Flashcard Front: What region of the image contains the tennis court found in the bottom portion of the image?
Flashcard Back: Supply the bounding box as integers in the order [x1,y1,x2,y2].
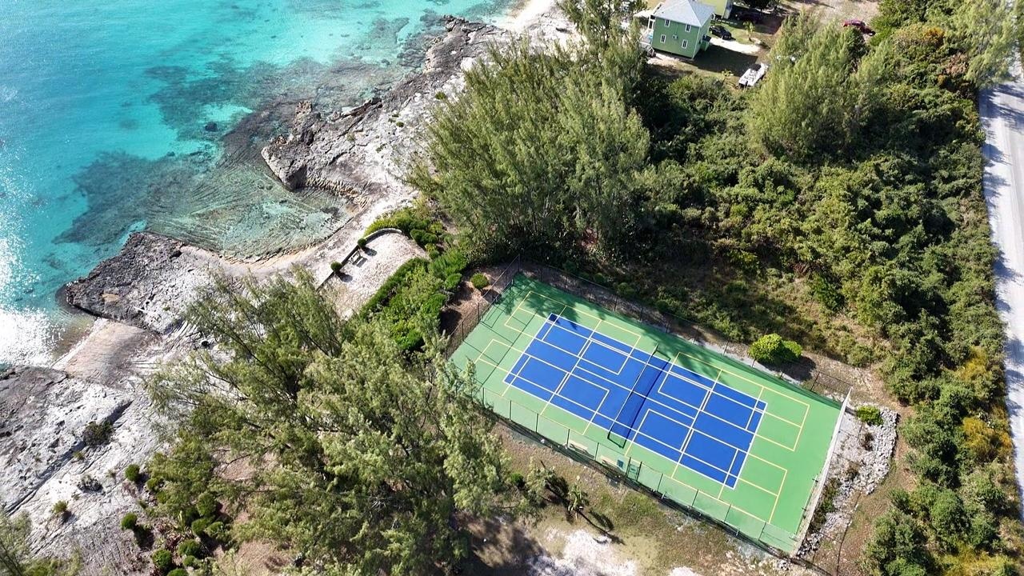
[430,273,841,559]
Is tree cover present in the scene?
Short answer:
Yes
